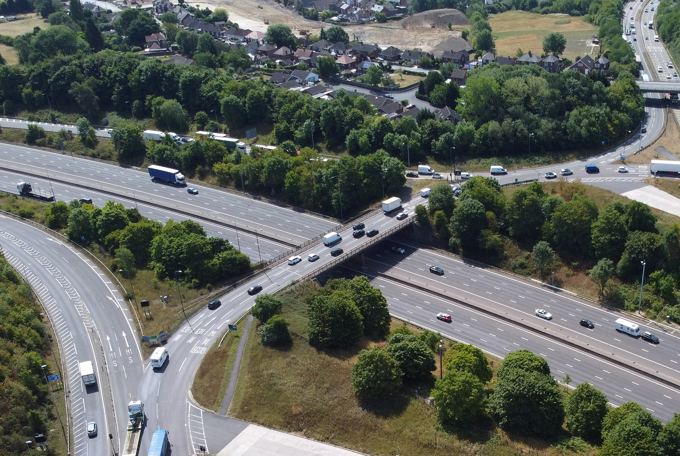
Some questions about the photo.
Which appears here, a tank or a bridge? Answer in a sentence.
There is a bridge in the scene.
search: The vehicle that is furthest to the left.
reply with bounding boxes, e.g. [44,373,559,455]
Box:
[14,184,52,199]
